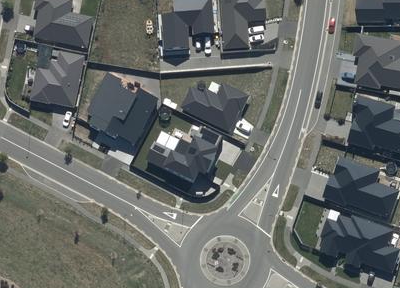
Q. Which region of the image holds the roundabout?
bottom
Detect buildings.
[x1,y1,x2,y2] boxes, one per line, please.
[161,0,214,52]
[356,0,400,24]
[346,95,400,153]
[28,0,94,50]
[182,84,249,135]
[32,52,84,108]
[318,216,398,274]
[348,34,400,92]
[220,0,266,52]
[88,73,158,146]
[322,158,399,224]
[144,127,222,186]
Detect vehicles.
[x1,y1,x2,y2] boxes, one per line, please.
[236,121,252,134]
[314,90,322,107]
[328,18,336,34]
[390,232,400,247]
[368,272,375,286]
[340,71,350,78]
[250,34,264,42]
[204,38,211,54]
[62,111,72,128]
[250,26,264,34]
